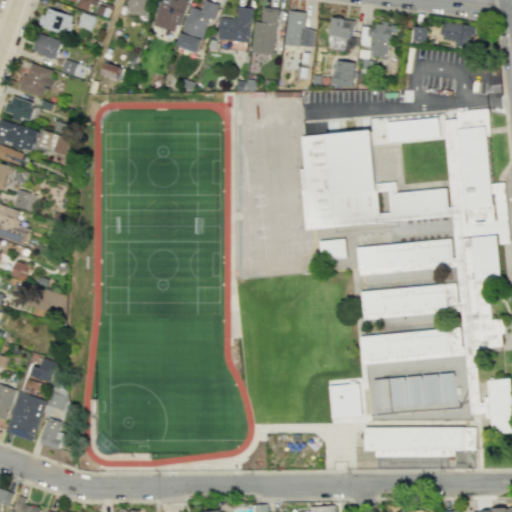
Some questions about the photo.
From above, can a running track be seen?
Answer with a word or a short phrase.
Yes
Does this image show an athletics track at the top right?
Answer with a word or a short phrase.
No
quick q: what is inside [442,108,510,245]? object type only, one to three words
building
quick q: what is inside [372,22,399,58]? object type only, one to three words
house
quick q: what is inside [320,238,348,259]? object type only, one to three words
building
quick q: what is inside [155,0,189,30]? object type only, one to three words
house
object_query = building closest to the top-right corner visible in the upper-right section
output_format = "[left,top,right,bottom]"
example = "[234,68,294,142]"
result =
[443,23,477,46]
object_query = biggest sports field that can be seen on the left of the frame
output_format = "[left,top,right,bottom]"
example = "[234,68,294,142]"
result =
[90,109,247,460]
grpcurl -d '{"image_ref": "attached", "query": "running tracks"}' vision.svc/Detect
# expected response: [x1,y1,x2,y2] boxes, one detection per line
[85,102,254,466]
